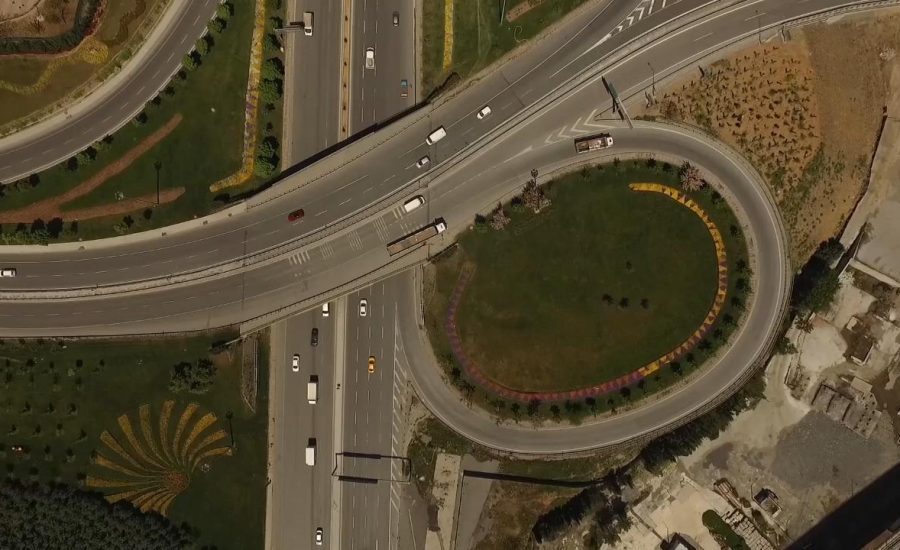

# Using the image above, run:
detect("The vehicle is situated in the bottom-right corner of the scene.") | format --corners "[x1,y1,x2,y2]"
[757,490,782,517]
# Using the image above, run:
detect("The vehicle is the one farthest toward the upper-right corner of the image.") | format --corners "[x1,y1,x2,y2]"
[575,134,614,152]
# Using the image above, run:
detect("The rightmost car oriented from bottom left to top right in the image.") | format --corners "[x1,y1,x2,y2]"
[475,105,492,119]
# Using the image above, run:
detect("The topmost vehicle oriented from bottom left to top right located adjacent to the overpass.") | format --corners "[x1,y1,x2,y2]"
[426,125,447,143]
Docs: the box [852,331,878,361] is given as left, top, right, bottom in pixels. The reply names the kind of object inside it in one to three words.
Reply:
shed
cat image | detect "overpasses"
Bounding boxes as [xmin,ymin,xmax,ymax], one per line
[243,99,432,334]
